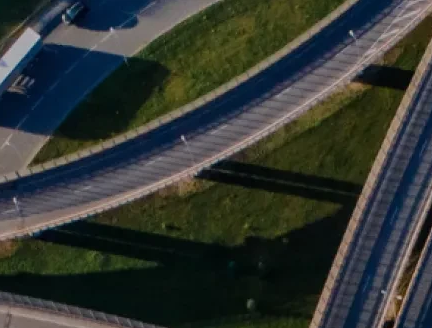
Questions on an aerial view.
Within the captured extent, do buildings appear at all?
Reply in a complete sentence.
No, this view has no building in it.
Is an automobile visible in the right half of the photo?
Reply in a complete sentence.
No, no automobile can be made out in the right half of the photo.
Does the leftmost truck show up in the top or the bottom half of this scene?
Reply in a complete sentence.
You can find the leftmost truck in the top half.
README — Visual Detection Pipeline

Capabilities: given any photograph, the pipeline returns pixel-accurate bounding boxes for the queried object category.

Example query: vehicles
[61,1,87,25]
[0,28,44,95]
